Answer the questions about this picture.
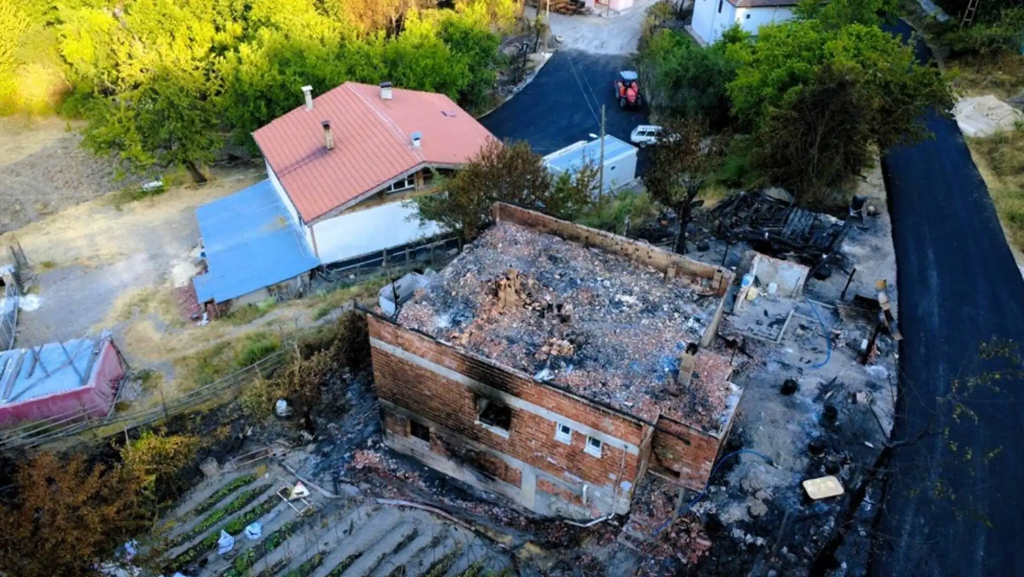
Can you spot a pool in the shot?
No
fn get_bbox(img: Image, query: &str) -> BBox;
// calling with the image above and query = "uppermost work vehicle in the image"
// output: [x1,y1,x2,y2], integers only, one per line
[617,71,643,113]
